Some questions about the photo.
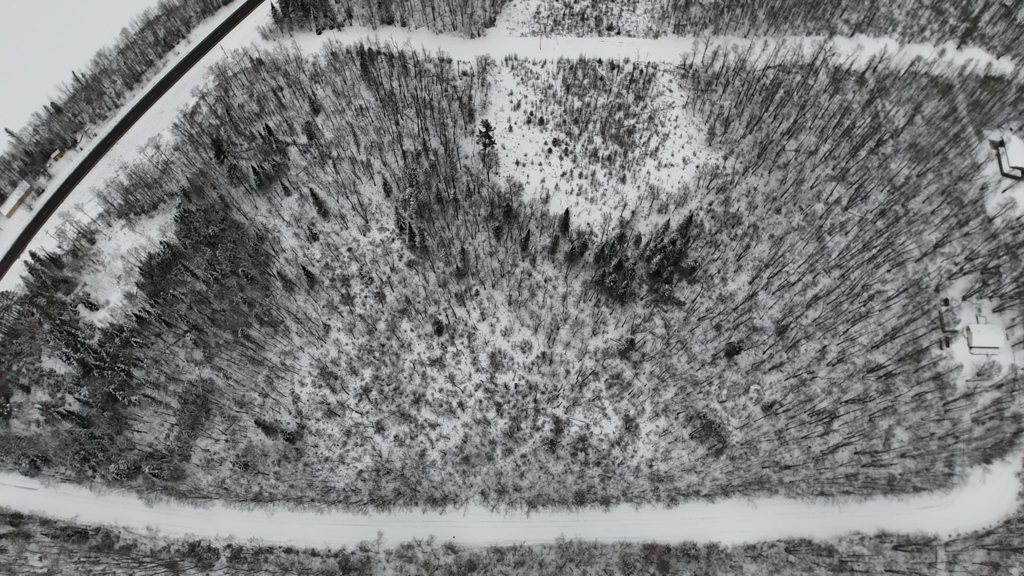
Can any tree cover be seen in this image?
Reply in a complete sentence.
Yes, some tree cover is visible.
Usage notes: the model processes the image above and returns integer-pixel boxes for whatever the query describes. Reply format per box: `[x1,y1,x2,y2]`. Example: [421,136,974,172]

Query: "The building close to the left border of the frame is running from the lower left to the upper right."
[0,178,33,227]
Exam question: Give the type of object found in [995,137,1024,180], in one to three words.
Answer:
house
